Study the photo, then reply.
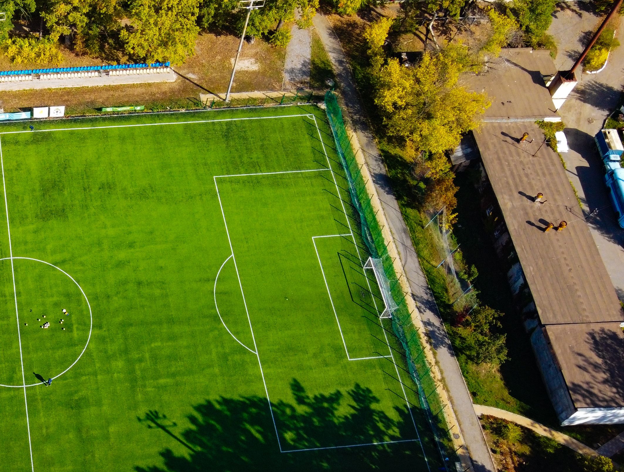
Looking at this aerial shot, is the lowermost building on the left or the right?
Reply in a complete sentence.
The lowermost building sits on the right side.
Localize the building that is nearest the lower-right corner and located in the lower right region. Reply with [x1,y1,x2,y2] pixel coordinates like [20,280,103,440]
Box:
[531,325,624,420]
